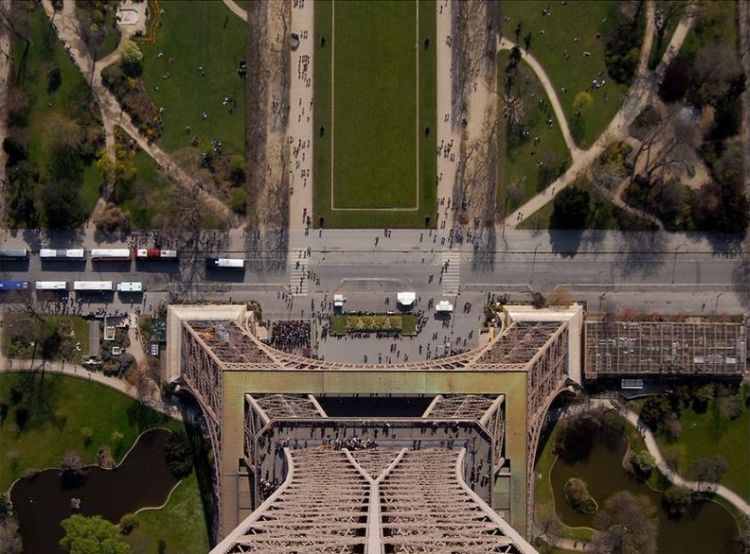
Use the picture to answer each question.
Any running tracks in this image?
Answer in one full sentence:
No, this view has no running track in it.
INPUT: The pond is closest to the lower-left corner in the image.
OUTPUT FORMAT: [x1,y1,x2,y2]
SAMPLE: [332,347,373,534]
[9,428,188,554]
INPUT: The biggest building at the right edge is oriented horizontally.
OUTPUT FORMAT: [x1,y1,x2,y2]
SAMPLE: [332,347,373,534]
[582,322,746,380]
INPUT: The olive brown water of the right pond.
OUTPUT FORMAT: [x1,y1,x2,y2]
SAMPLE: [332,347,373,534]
[551,418,740,554]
